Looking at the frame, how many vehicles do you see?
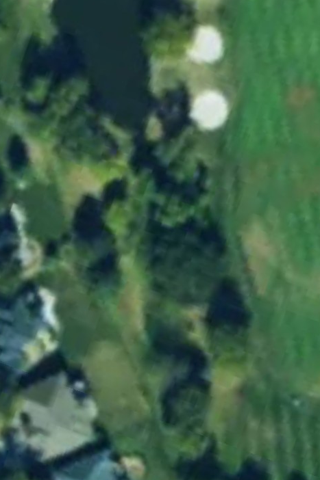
none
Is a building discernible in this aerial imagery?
Yes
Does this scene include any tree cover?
Yes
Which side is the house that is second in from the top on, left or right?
left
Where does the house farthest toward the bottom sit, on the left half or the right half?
left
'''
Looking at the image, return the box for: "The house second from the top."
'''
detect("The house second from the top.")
[0,293,47,378]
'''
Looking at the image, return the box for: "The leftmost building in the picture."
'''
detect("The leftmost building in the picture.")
[0,214,19,253]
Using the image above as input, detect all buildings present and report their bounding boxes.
[13,374,102,465]
[45,444,125,480]
[0,214,19,253]
[0,293,47,378]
